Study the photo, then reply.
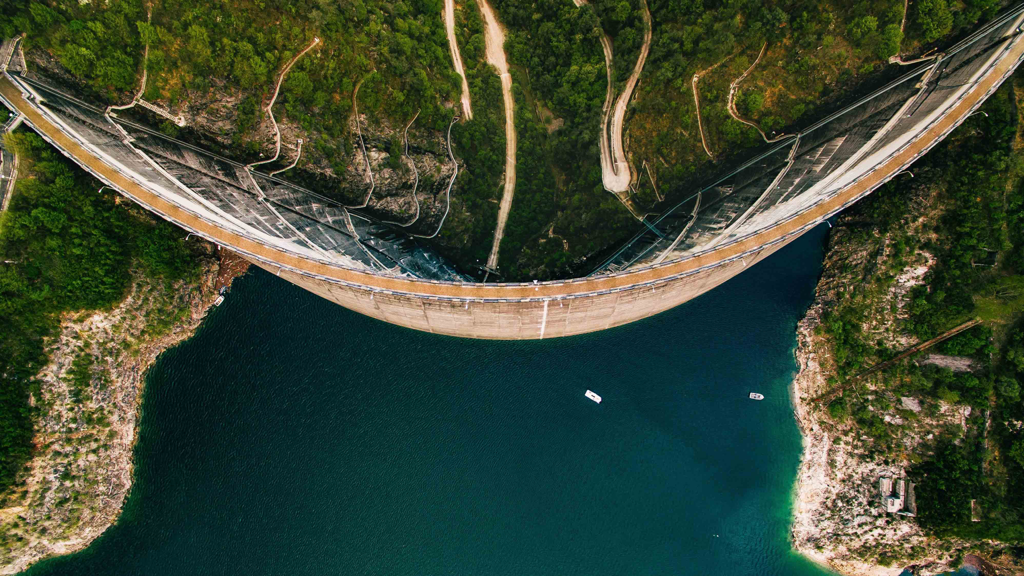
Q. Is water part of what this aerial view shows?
Yes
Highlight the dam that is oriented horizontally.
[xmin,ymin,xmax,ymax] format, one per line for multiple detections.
[0,7,1024,340]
